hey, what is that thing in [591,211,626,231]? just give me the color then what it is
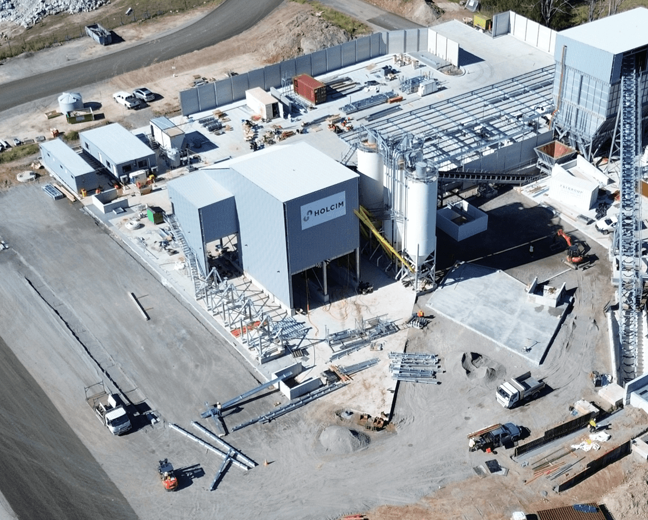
white vehicle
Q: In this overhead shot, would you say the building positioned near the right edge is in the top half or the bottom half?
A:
top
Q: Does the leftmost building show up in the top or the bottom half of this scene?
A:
top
